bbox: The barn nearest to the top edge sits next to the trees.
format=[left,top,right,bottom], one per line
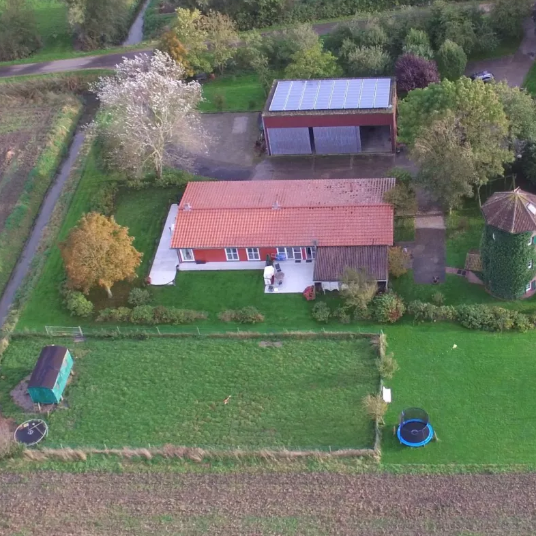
[260,78,396,155]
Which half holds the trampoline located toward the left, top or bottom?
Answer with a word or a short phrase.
bottom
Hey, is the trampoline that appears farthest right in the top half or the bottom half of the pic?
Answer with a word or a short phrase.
bottom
